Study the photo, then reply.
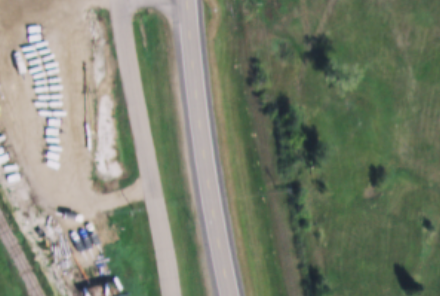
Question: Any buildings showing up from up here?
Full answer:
No, the photo shows no building.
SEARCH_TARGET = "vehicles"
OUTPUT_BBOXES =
[78,227,93,248]
[86,221,101,242]
[56,208,80,220]
[36,226,46,236]
[70,230,85,250]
